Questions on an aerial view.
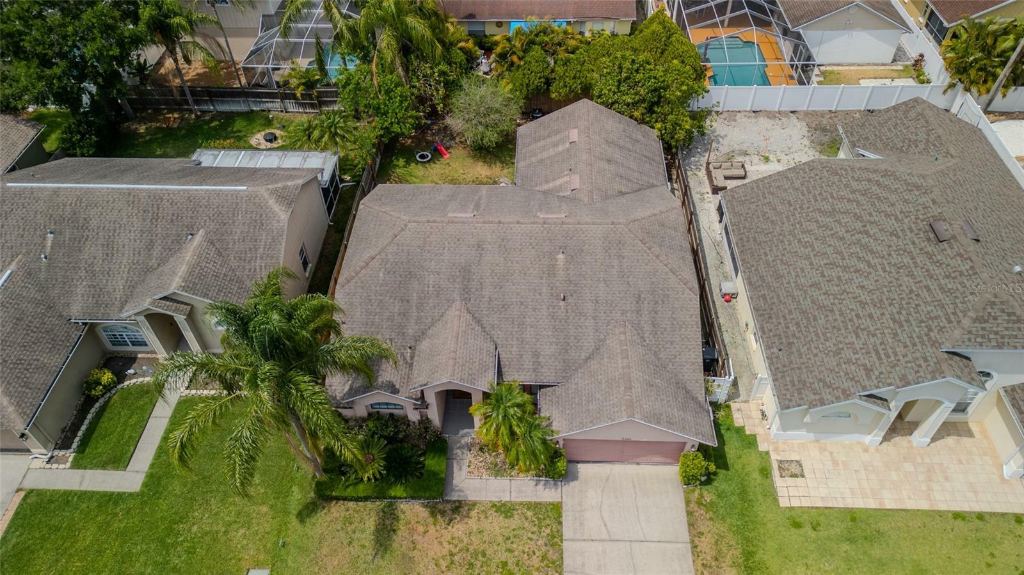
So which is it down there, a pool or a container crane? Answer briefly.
pool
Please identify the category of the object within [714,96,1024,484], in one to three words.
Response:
house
